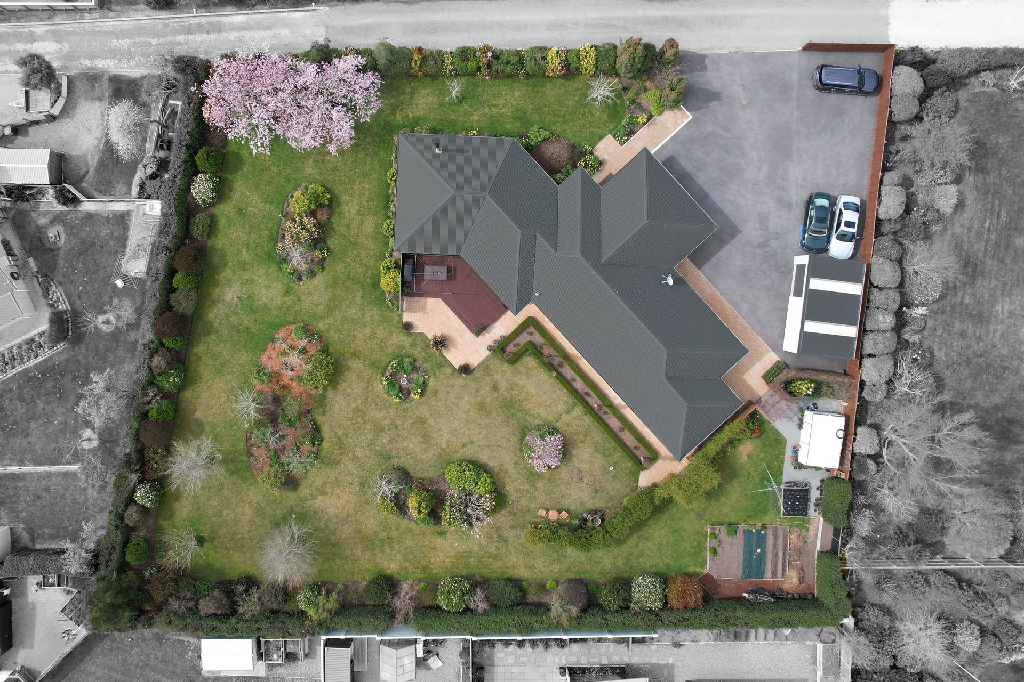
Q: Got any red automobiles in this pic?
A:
No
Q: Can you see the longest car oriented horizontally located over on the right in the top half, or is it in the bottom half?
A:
top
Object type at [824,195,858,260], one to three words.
car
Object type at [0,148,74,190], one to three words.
shed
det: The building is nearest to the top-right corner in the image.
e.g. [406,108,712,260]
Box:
[785,256,868,359]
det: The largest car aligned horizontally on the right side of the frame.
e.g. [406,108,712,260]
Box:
[805,64,877,99]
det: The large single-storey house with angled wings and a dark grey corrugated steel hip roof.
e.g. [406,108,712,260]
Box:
[392,131,752,463]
